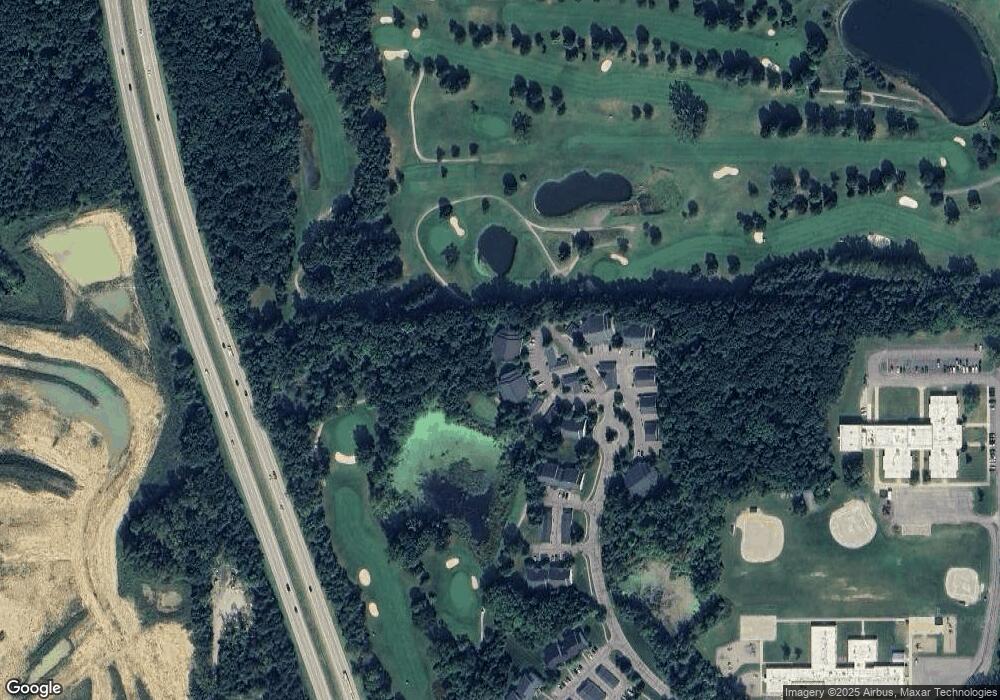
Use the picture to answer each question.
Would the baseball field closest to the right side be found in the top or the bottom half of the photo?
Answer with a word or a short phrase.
bottom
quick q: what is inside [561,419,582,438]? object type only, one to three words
house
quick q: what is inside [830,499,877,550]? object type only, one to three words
baseball field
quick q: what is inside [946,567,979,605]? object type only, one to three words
baseball field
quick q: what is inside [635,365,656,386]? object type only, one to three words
building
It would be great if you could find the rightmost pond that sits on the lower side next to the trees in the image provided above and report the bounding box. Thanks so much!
[414,458,501,542]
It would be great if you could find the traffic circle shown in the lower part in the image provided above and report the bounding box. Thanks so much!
[594,417,629,451]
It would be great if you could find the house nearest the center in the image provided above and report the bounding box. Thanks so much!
[494,331,520,363]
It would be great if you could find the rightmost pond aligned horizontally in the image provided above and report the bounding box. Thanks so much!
[534,170,632,217]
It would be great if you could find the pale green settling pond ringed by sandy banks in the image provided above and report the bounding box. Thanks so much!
[43,226,120,284]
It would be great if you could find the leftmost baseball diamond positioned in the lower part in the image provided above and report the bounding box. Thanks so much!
[736,512,784,563]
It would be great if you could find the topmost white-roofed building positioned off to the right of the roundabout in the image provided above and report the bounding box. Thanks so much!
[839,394,962,478]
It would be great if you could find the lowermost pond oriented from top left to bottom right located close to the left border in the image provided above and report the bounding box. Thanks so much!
[15,361,131,459]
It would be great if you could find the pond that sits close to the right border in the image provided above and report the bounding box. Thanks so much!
[840,0,995,124]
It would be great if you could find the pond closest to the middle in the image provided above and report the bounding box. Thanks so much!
[479,225,518,278]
